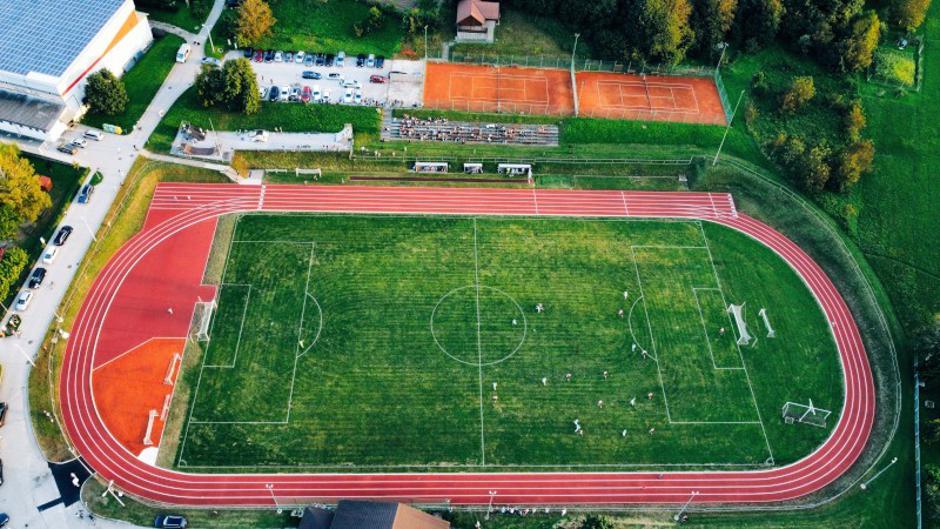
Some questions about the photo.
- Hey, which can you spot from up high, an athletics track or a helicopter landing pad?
athletics track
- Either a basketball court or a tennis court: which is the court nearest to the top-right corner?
tennis court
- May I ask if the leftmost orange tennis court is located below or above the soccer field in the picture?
above it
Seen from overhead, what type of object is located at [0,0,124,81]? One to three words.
solar array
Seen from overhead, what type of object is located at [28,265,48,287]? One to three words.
car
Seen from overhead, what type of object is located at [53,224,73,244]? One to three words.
car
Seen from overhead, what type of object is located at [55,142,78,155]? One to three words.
vehicle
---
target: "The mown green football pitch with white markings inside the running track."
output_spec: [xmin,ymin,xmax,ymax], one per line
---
[154,210,845,473]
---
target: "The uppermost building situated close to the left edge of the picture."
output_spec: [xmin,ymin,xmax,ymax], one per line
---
[0,0,155,155]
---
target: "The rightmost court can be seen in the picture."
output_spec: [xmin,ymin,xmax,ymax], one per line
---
[576,71,727,124]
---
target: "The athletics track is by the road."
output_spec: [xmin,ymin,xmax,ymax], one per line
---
[60,182,876,506]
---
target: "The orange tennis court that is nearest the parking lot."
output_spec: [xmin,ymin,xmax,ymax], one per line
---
[424,63,576,115]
